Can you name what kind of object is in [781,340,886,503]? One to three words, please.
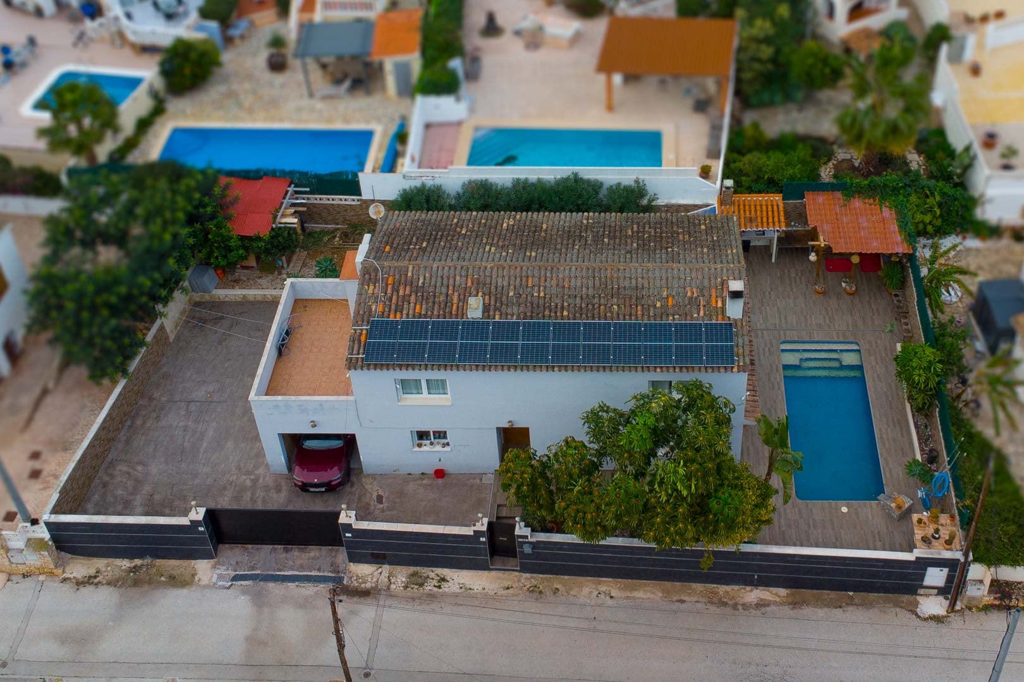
swimming pool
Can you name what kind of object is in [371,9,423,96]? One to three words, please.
shed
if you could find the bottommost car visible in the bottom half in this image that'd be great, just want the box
[288,433,351,493]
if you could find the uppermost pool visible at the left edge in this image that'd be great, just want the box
[27,70,139,111]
